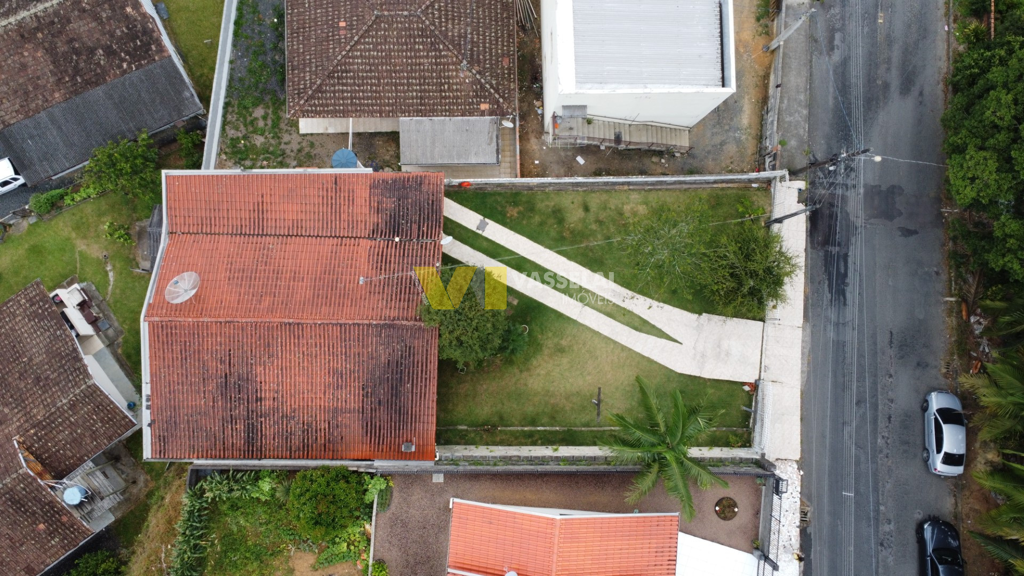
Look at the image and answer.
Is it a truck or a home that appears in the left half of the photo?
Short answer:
home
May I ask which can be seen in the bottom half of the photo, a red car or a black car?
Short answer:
black car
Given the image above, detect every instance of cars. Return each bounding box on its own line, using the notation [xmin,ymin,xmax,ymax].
[918,518,966,576]
[0,152,22,192]
[921,391,969,478]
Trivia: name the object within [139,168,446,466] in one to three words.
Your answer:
house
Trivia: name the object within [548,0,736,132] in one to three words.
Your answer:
building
